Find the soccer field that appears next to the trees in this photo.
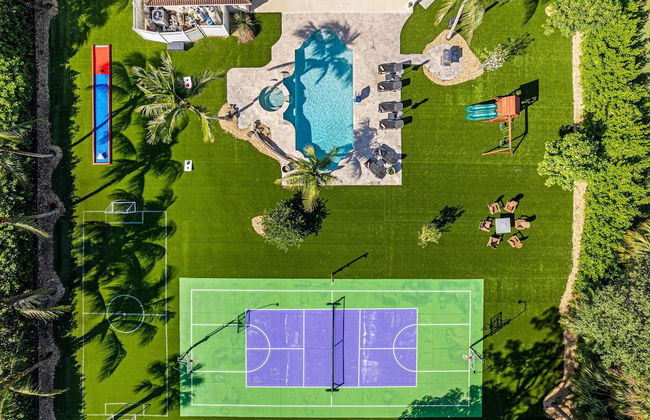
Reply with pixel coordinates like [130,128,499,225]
[81,209,169,420]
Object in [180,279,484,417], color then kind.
green sports court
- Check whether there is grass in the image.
Yes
